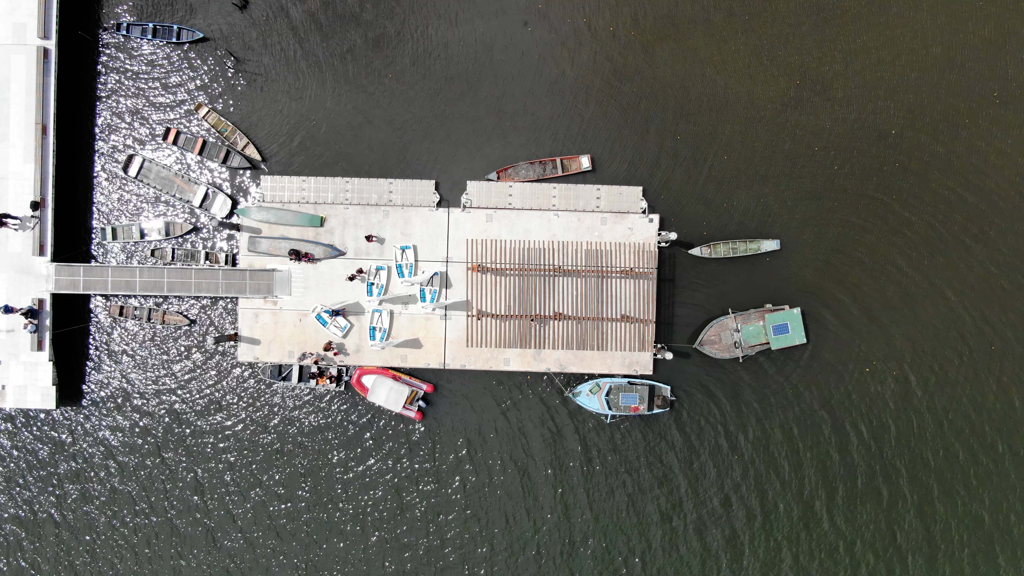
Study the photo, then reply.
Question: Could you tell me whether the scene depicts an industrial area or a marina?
marina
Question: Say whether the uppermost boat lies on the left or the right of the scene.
left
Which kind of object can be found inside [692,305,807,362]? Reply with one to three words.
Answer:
boat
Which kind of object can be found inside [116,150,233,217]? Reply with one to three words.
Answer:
boat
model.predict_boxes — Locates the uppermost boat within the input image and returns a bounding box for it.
[115,22,204,42]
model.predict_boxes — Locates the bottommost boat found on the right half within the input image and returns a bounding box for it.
[564,377,676,423]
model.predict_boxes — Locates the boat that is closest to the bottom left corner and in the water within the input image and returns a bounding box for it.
[108,304,191,327]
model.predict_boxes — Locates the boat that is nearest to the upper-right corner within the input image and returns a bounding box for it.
[688,239,781,258]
